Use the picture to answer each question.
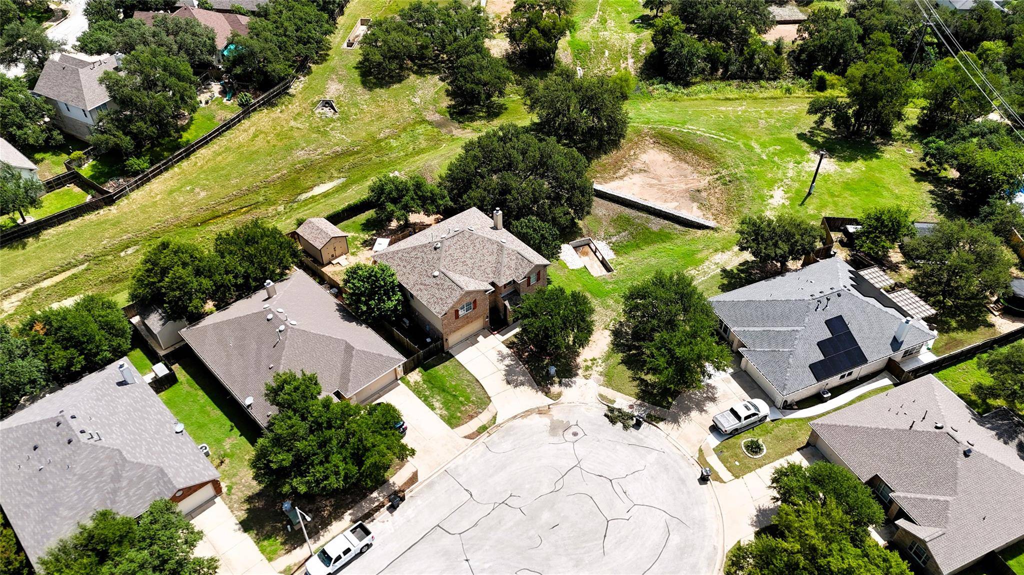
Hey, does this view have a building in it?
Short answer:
Yes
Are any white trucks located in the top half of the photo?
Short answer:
No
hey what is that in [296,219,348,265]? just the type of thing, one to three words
shed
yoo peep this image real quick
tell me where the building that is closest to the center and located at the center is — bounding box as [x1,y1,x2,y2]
[372,206,552,349]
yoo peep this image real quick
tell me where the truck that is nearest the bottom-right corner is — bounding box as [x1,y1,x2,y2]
[711,401,771,435]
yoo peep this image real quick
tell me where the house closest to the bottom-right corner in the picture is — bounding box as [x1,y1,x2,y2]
[805,373,1024,575]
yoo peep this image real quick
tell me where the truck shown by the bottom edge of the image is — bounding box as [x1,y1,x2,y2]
[304,522,373,575]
